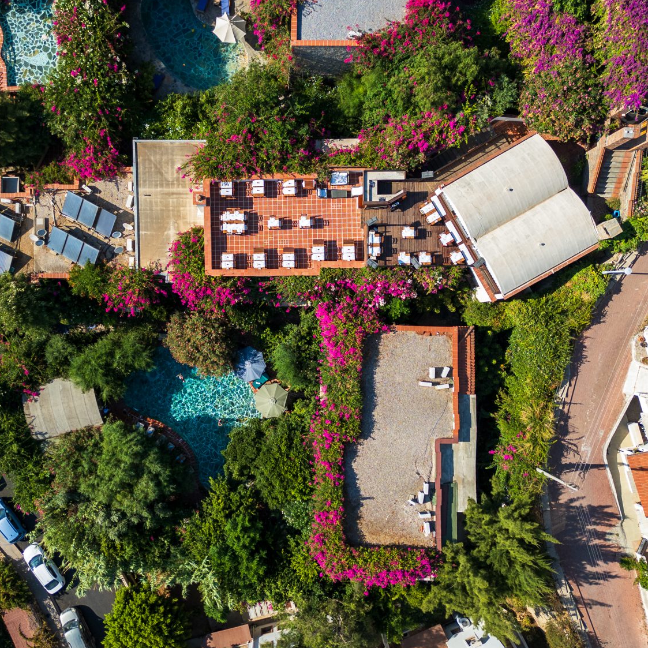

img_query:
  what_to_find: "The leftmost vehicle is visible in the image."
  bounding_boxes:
[0,493,27,546]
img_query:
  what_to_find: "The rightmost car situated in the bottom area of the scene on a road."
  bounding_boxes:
[60,602,98,648]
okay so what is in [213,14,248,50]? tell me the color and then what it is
white umbrella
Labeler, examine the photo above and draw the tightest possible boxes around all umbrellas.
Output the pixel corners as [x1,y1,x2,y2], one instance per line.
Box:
[254,381,289,417]
[213,14,248,50]
[235,347,268,380]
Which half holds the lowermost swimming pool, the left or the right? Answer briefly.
left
